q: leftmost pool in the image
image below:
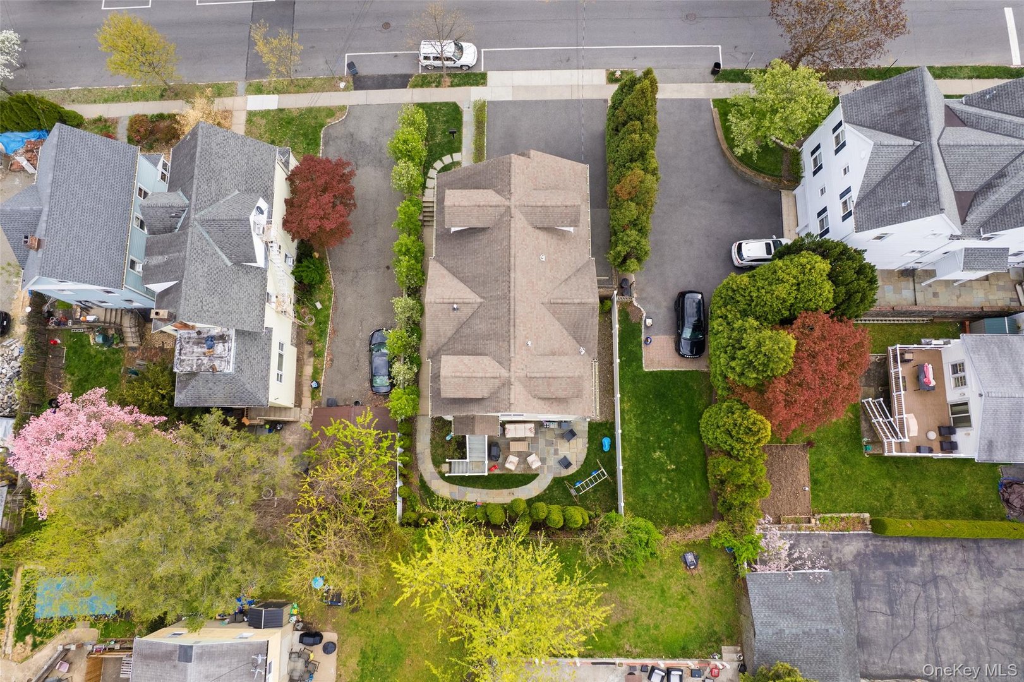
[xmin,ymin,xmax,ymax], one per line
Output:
[34,575,117,620]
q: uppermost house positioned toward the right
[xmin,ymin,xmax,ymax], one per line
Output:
[794,66,1024,287]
